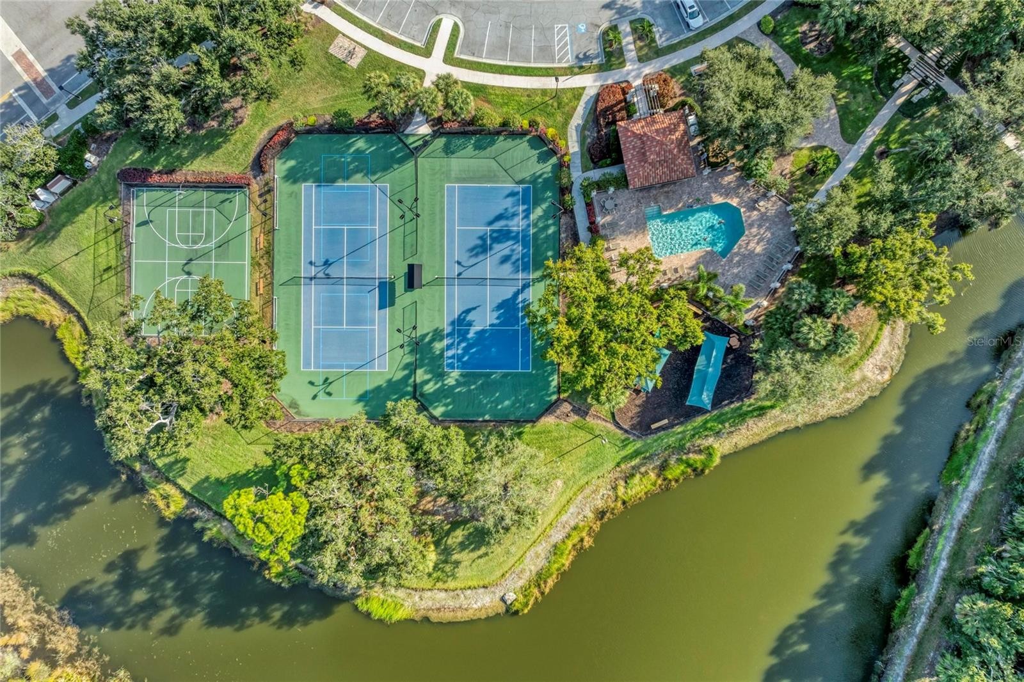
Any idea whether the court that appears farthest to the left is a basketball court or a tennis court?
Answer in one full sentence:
What you see as the court that appears farthest to the left is a basketball court.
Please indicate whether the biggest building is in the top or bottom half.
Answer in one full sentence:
Seen from above, the biggest building lies in the top half of the view.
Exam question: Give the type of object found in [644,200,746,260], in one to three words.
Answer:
swimming pool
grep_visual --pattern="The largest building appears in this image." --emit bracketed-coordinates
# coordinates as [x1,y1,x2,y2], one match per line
[616,109,698,190]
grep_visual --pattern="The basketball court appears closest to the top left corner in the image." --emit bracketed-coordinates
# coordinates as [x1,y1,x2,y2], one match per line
[129,187,250,335]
